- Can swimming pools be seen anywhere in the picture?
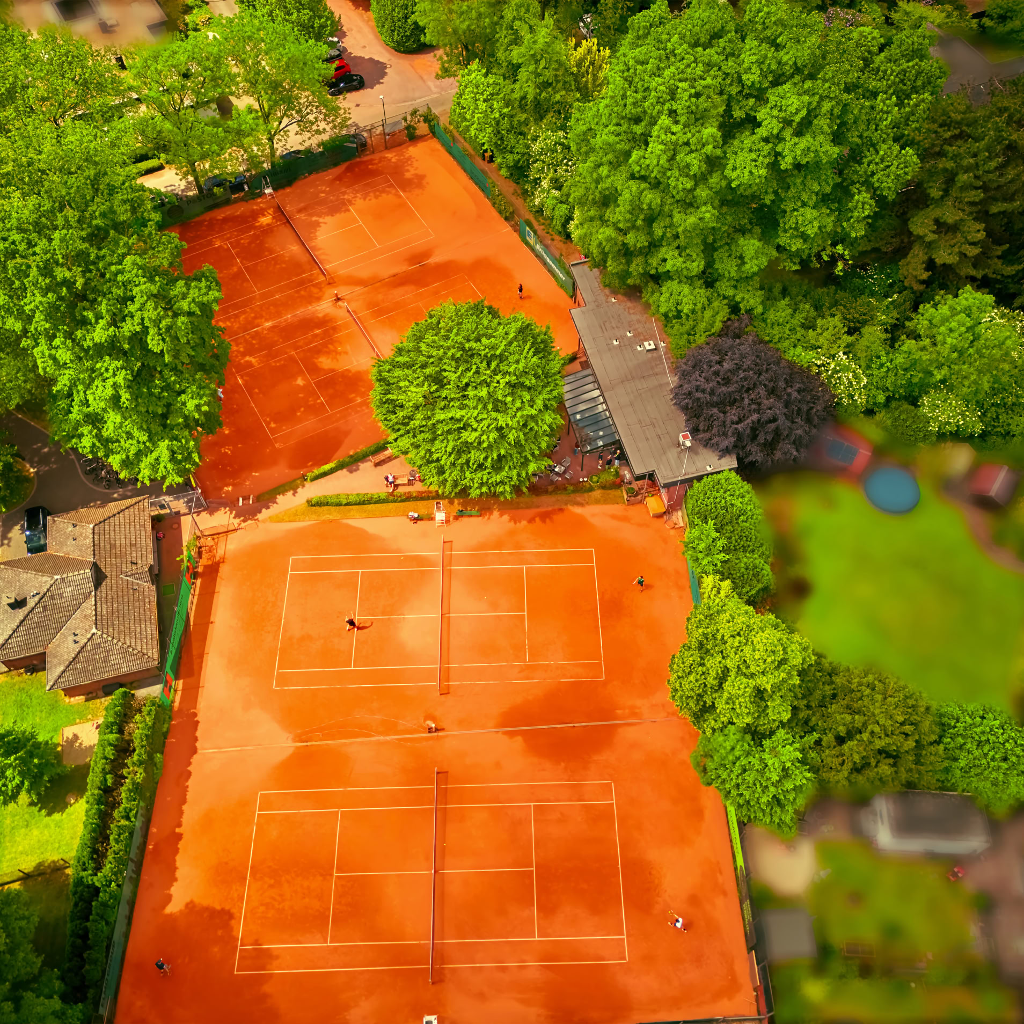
Yes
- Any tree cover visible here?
Yes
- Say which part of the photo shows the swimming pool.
right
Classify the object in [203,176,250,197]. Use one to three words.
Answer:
car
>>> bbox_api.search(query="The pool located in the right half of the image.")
[862,463,922,513]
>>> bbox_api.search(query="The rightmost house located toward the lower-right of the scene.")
[871,794,993,848]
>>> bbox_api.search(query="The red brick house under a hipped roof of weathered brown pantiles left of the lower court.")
[0,494,170,700]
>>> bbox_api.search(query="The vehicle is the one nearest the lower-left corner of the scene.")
[11,503,52,559]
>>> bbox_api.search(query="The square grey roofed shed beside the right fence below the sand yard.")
[761,906,818,960]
